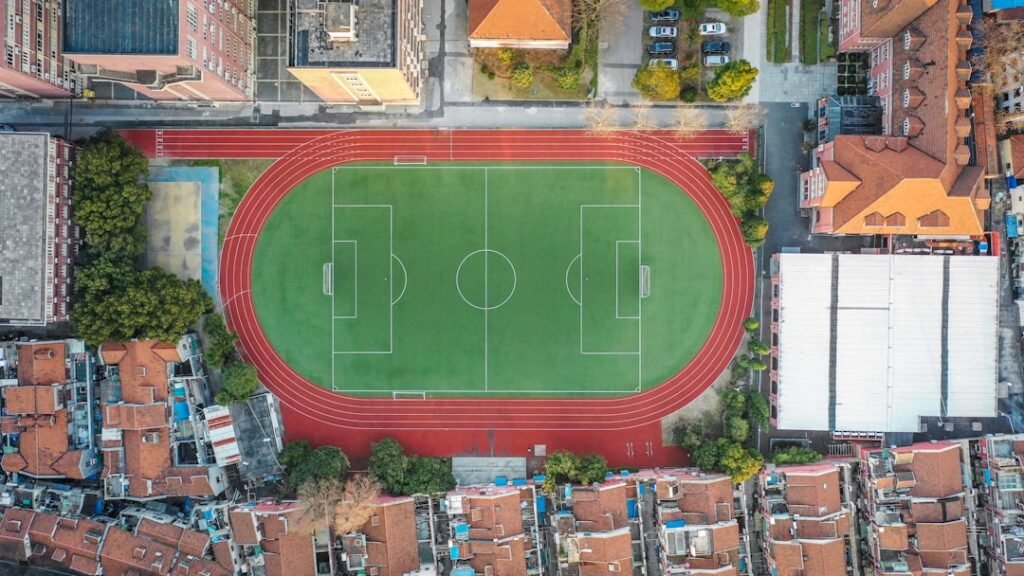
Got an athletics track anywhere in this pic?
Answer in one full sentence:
Yes, the picture does show an athletics track.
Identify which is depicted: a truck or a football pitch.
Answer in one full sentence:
It is a football pitch that can be seen here.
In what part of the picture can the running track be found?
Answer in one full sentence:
The running track is in the center part of the image.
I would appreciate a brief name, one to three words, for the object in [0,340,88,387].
house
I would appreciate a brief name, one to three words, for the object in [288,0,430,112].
building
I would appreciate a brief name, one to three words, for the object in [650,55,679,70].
car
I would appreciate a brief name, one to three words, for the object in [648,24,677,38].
car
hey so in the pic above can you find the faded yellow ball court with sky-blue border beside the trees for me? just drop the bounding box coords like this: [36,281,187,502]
[112,167,219,298]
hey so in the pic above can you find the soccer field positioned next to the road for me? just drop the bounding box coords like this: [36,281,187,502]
[252,161,722,398]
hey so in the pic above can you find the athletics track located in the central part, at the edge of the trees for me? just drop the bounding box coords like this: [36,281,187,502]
[120,129,757,474]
